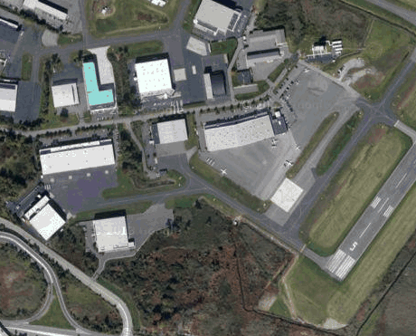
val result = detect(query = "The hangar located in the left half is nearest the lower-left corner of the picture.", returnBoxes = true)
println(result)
[24,196,66,240]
